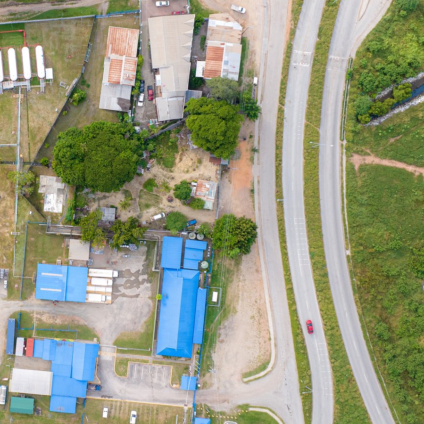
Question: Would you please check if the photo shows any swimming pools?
No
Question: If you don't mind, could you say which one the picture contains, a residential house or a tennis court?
residential house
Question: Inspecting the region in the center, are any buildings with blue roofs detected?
Yes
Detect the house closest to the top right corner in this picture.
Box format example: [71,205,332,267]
[195,14,242,81]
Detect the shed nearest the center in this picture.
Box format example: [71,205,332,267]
[189,181,215,210]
